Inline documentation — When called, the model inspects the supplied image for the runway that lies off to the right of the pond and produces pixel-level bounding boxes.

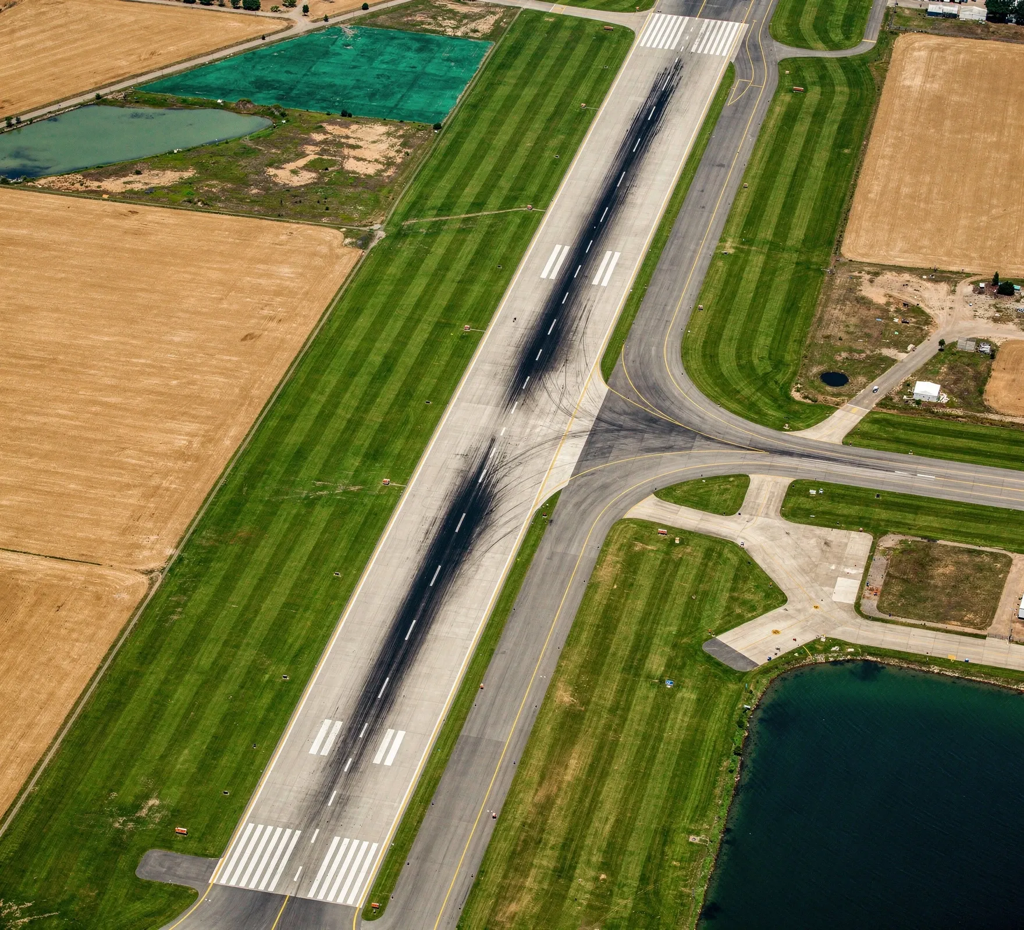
[206,13,878,908]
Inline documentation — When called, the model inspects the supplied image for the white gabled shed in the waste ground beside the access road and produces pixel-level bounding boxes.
[914,381,942,402]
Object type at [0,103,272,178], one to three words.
pond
